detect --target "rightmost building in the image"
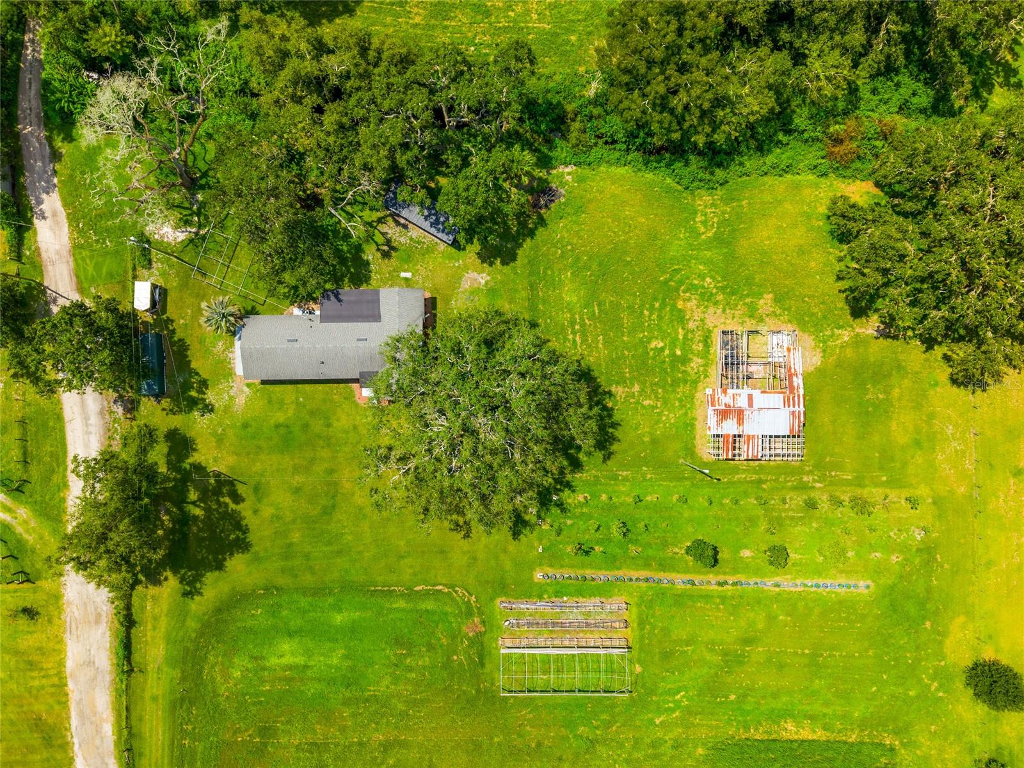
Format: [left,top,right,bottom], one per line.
[705,324,806,467]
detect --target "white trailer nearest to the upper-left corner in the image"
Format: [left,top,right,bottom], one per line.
[134,281,166,321]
